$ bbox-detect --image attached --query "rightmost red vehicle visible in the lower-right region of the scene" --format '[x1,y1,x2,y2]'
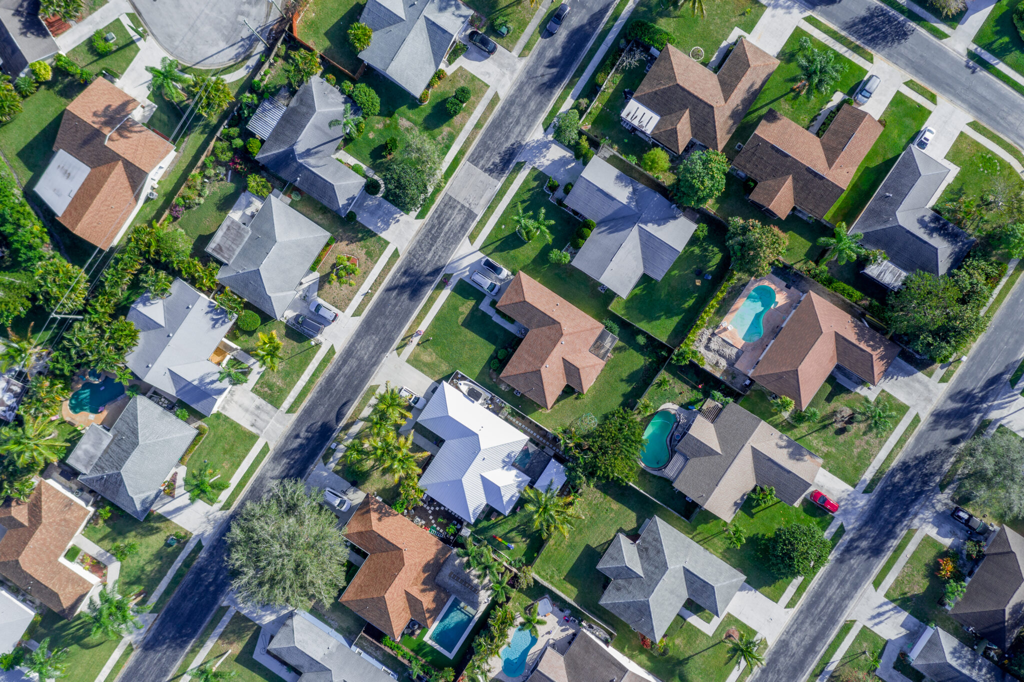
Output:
[808,487,840,511]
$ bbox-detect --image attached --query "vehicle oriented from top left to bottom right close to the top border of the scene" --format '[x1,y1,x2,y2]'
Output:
[467,29,499,57]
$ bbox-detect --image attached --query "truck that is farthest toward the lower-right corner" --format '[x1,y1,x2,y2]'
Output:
[948,503,990,537]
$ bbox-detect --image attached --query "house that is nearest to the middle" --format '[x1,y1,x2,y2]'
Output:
[496,271,606,410]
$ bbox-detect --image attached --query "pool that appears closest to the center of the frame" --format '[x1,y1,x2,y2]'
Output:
[513,440,534,471]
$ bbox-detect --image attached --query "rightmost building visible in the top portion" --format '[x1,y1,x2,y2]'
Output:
[847,144,976,292]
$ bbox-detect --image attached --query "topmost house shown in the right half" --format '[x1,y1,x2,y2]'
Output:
[618,38,780,154]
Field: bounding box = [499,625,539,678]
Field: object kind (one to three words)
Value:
swimming pool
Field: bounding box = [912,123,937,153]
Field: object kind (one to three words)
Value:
car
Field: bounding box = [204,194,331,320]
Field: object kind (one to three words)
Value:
house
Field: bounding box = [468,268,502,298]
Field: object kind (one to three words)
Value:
car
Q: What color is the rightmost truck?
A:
black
